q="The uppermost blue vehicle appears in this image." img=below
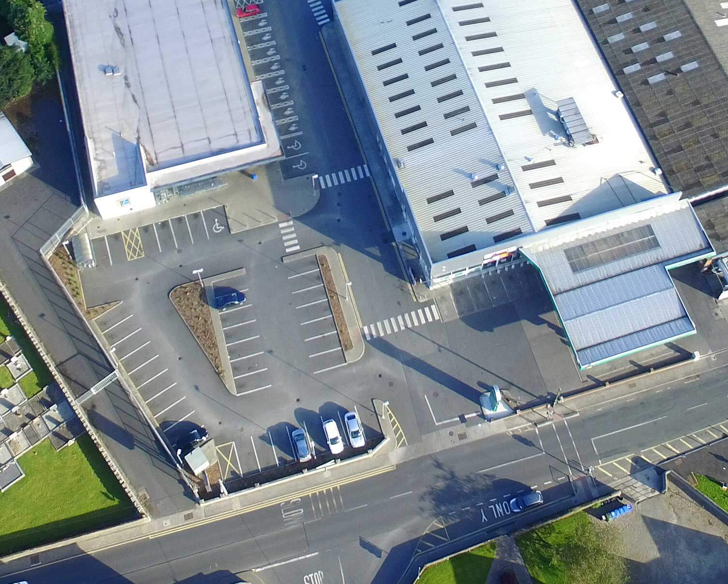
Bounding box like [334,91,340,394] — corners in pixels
[214,290,245,308]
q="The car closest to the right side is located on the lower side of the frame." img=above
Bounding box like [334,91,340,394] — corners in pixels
[510,490,544,513]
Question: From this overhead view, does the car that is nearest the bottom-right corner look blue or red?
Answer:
blue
